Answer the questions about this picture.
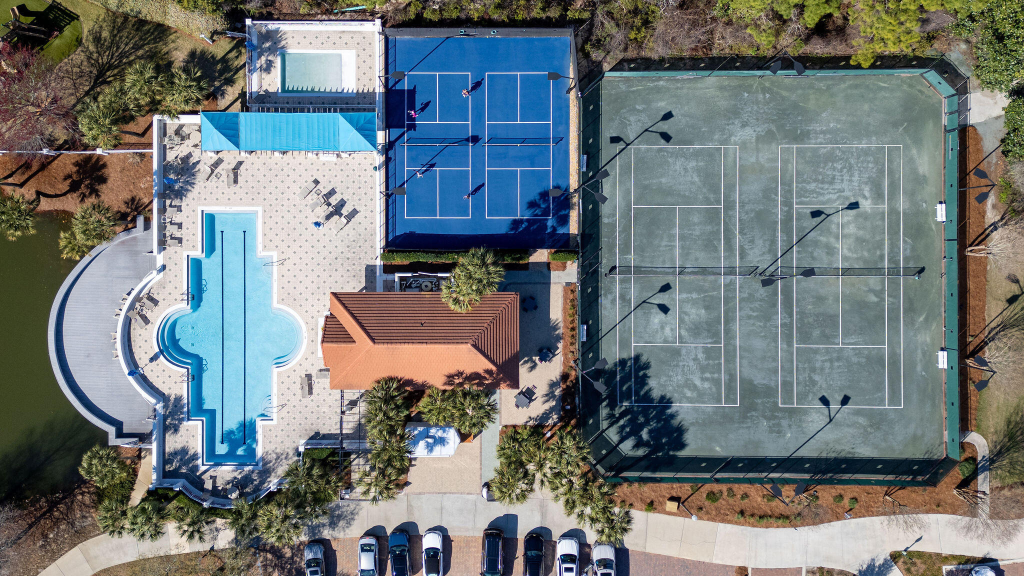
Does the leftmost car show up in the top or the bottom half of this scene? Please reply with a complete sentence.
The leftmost car sits in the bottom half of the picture.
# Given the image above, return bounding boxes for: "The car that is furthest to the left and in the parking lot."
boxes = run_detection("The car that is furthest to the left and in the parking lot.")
[301,542,326,576]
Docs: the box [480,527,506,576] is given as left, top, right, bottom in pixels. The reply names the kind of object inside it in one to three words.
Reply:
car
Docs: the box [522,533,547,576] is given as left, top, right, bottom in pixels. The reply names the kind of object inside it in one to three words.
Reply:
car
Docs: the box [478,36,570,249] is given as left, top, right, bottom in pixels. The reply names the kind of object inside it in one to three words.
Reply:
sports court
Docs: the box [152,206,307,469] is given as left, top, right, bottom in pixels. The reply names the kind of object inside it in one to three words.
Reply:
swimming pool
